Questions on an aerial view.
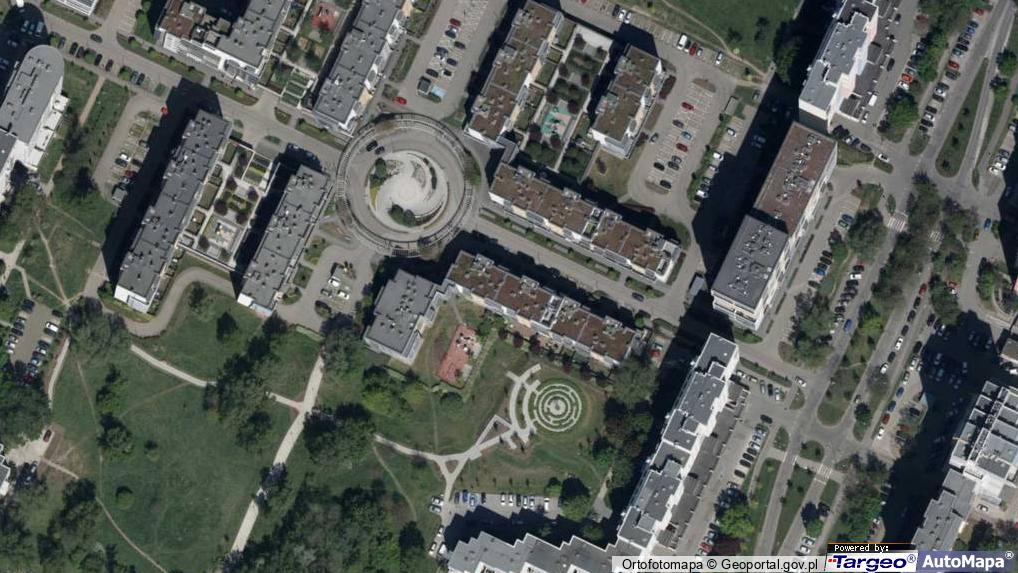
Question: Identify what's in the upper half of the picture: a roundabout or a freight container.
roundabout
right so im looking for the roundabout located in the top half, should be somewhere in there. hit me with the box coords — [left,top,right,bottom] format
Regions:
[335,115,474,256]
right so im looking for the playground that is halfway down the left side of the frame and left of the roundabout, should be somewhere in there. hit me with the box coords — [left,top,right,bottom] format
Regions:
[211,220,236,250]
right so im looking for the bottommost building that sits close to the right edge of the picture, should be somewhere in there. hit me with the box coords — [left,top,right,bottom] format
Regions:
[902,469,979,573]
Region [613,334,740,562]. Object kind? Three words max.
building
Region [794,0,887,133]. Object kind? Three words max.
building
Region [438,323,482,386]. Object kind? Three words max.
playground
